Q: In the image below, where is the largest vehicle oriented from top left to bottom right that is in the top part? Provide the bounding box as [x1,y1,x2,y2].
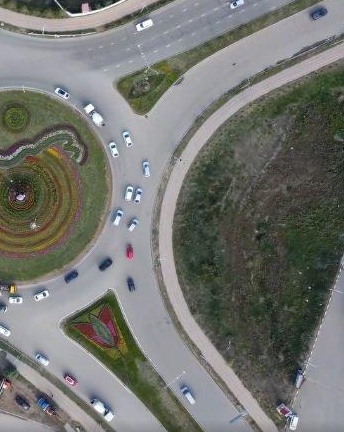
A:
[82,101,105,125]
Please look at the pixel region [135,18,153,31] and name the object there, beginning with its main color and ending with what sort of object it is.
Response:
white vehicle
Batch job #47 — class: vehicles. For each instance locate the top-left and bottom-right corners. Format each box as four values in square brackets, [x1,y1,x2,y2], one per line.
[128,217,138,232]
[134,188,141,203]
[180,386,195,404]
[90,398,116,423]
[54,87,70,99]
[14,396,30,409]
[34,352,50,366]
[0,324,11,336]
[36,396,58,420]
[126,276,136,291]
[310,7,327,19]
[63,372,78,386]
[125,186,133,201]
[288,413,298,431]
[135,18,153,31]
[82,101,105,125]
[228,0,245,9]
[34,289,50,300]
[141,161,150,176]
[126,243,133,259]
[63,269,79,283]
[112,210,123,226]
[98,256,113,271]
[108,141,119,157]
[122,131,133,147]
[294,371,304,389]
[8,296,22,302]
